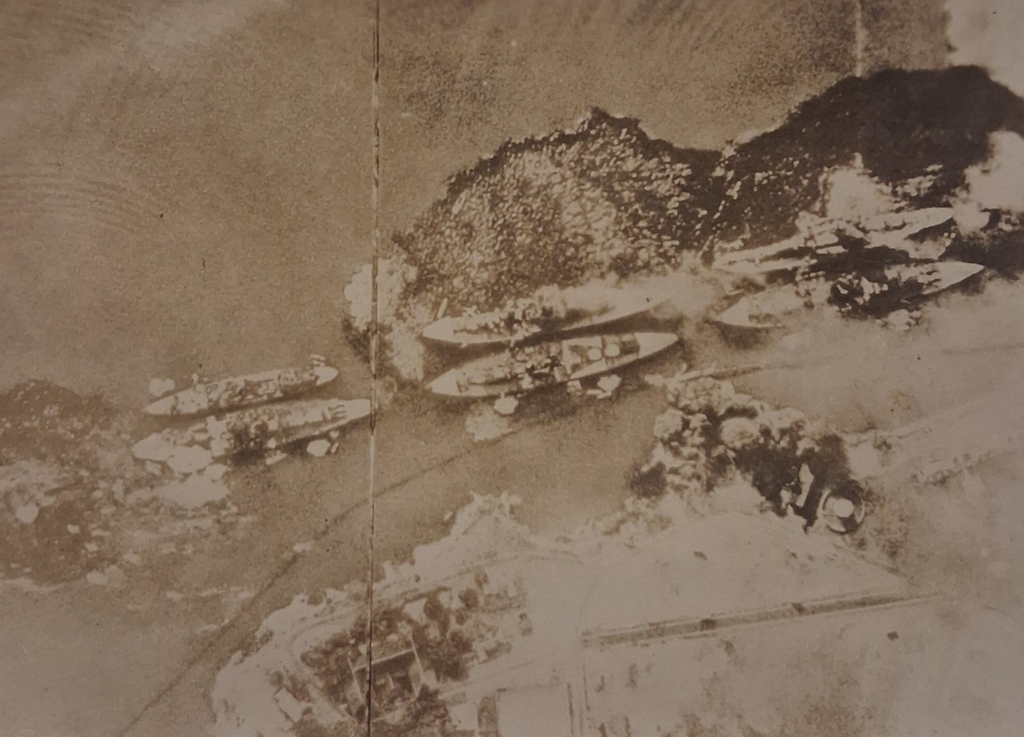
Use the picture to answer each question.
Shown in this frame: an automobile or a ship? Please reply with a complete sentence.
This aerial view contains a ship.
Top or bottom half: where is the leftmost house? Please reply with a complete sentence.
The leftmost house is in the bottom half of the image.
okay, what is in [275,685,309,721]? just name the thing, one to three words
house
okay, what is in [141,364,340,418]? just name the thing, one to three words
ship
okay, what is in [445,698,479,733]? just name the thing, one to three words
building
